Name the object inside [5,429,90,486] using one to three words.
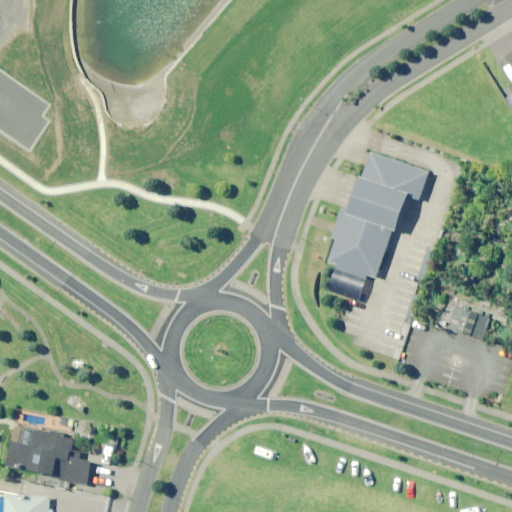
house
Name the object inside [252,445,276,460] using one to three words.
camper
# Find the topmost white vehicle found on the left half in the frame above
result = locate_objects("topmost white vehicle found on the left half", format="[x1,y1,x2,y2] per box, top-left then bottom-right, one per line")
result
[146,353,159,370]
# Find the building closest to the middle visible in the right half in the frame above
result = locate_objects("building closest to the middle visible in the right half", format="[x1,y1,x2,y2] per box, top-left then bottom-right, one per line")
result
[328,150,430,302]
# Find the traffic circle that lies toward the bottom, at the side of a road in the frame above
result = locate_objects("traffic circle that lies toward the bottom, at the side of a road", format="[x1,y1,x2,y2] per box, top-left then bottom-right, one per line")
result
[144,242,302,442]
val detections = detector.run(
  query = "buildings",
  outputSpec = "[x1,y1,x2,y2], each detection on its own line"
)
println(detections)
[474,314,490,340]
[4,496,49,512]
[5,429,90,486]
[328,150,430,302]
[464,312,478,336]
